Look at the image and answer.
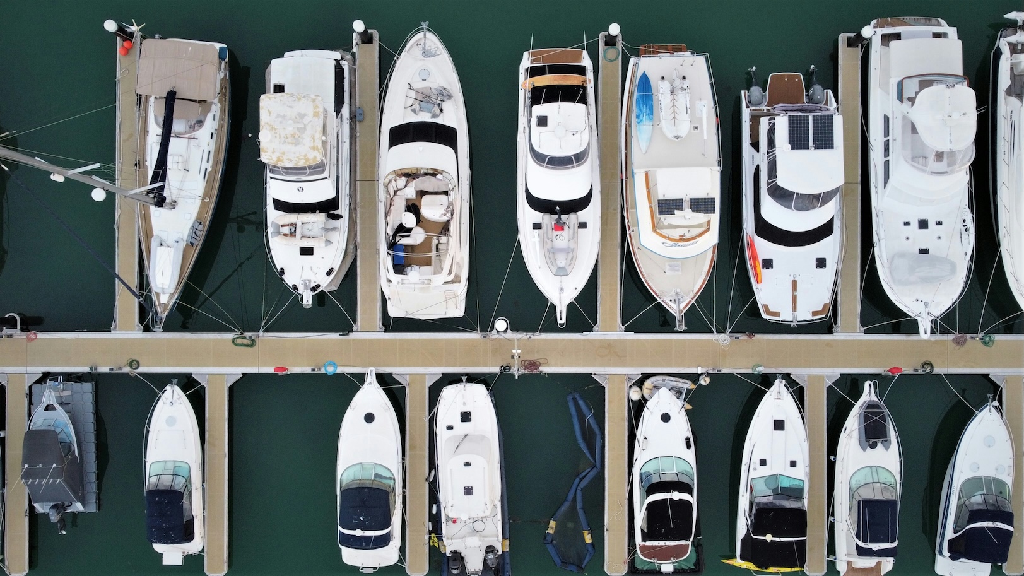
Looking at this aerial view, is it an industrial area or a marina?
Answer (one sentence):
The area seen from above is a marina.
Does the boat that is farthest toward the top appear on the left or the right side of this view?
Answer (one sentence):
It is on the right.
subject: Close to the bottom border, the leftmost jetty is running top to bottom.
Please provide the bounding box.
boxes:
[0,373,45,575]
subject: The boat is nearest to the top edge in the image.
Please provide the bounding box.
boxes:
[1003,9,1024,51]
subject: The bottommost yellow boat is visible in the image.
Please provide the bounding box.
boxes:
[719,556,802,572]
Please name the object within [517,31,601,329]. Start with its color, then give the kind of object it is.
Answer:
white boat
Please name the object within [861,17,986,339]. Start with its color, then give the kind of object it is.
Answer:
white boat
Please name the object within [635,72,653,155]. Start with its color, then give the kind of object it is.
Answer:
blue boat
